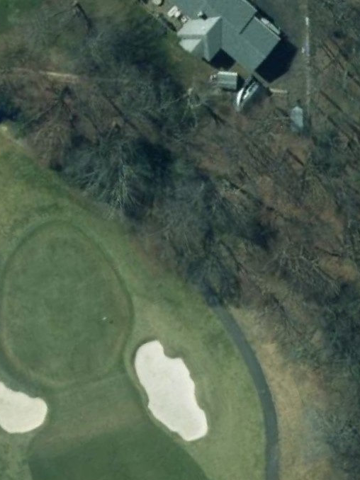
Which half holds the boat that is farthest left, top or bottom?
top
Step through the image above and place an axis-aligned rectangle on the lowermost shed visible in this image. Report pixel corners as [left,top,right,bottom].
[218,70,237,88]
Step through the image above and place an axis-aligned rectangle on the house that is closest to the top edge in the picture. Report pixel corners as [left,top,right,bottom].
[173,0,280,70]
